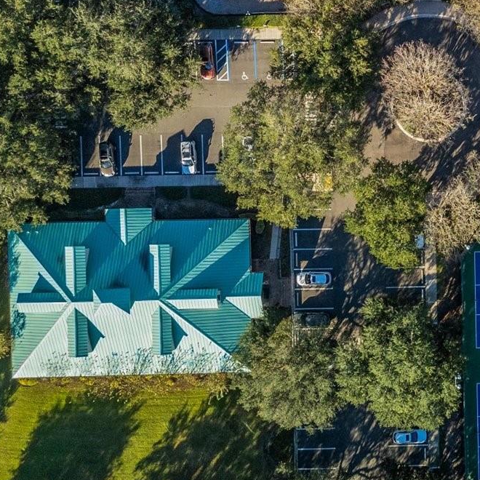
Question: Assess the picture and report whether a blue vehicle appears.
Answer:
Yes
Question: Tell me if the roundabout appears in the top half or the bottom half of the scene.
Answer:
top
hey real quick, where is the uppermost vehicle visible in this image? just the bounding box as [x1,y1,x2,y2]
[198,42,217,80]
